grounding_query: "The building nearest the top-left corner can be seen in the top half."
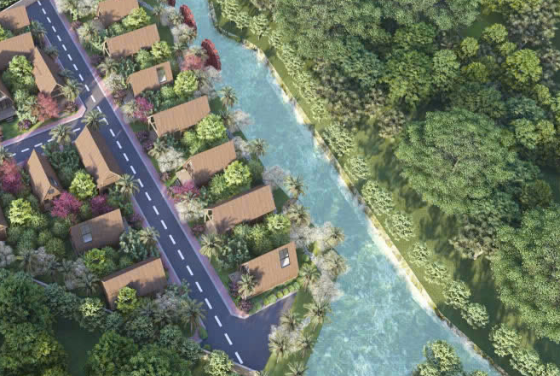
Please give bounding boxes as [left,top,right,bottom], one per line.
[0,5,37,40]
